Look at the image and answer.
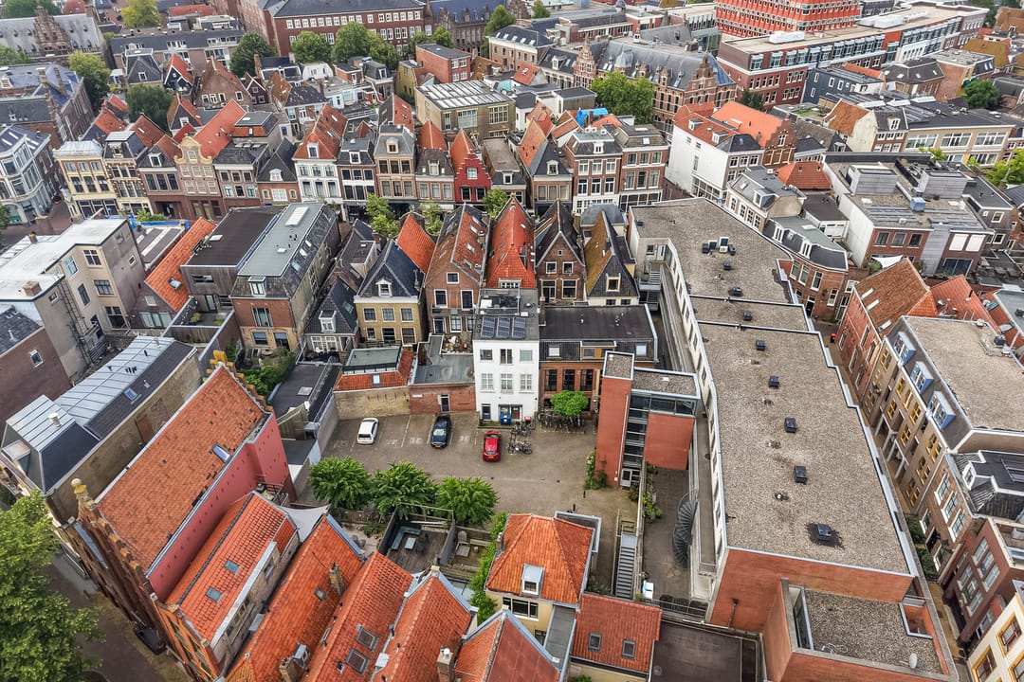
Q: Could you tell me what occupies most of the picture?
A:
buildings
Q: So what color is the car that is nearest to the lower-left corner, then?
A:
white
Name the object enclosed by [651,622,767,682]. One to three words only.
building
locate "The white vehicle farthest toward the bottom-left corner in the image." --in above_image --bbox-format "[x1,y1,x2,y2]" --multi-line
[351,418,379,450]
